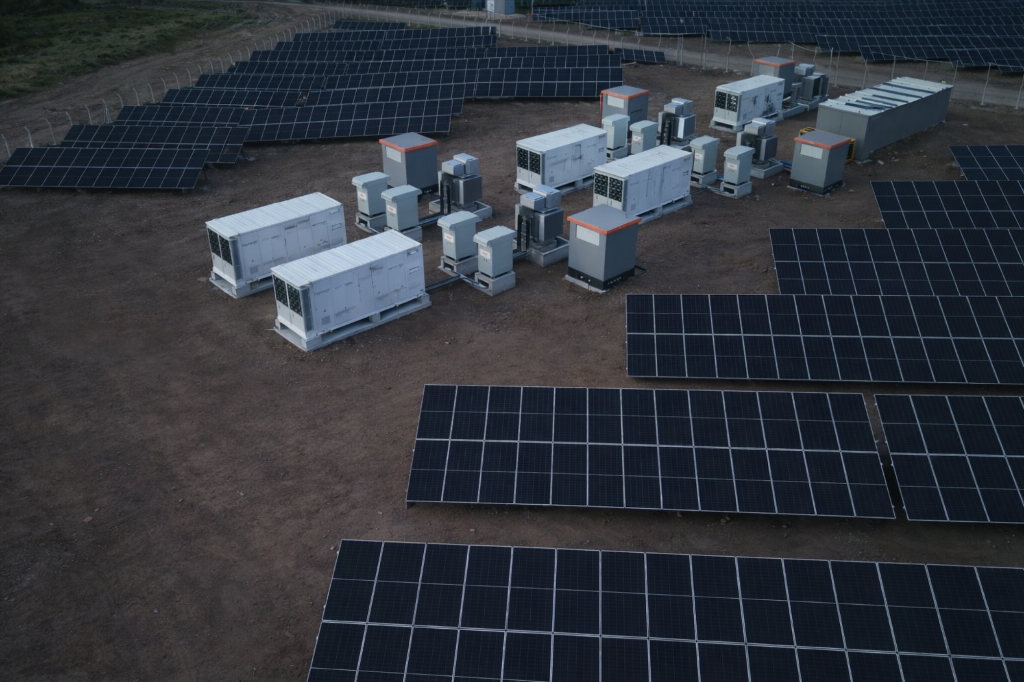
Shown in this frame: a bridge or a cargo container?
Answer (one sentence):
The image shows a cargo container.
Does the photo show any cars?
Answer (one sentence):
No, no car is visible in the scene.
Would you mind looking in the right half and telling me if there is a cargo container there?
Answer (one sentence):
Yes, in the right half there is a cargo container.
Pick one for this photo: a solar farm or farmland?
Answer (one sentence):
It's a solar farm.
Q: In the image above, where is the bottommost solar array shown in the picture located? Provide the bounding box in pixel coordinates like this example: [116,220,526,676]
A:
[308,540,1024,682]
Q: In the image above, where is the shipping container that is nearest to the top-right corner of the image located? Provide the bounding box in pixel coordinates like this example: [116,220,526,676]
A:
[814,76,955,161]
